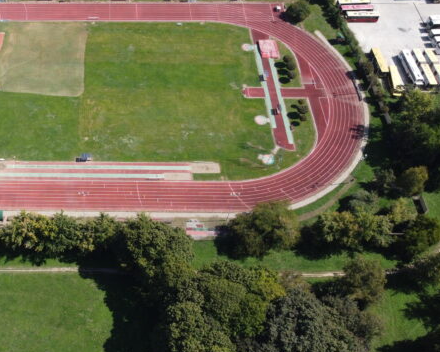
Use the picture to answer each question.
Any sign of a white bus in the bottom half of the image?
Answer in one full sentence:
No, looking in the bottom half of the image, there is no white bus.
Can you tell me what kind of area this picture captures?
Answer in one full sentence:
What you see here is a sports ground.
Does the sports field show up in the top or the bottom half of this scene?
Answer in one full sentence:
You can find the sports field in the top half.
